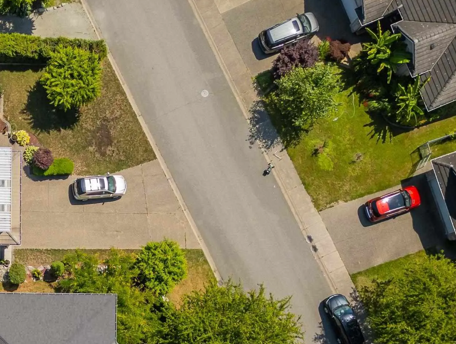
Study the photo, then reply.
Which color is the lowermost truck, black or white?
black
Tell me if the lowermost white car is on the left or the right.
left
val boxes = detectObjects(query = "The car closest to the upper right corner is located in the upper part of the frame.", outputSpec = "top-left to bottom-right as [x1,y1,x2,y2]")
[256,13,316,54]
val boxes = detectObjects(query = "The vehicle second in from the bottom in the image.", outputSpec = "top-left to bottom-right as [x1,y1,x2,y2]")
[364,187,421,221]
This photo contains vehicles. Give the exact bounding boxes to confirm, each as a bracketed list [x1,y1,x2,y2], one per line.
[364,187,421,221]
[72,172,126,201]
[323,290,367,344]
[256,13,316,54]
